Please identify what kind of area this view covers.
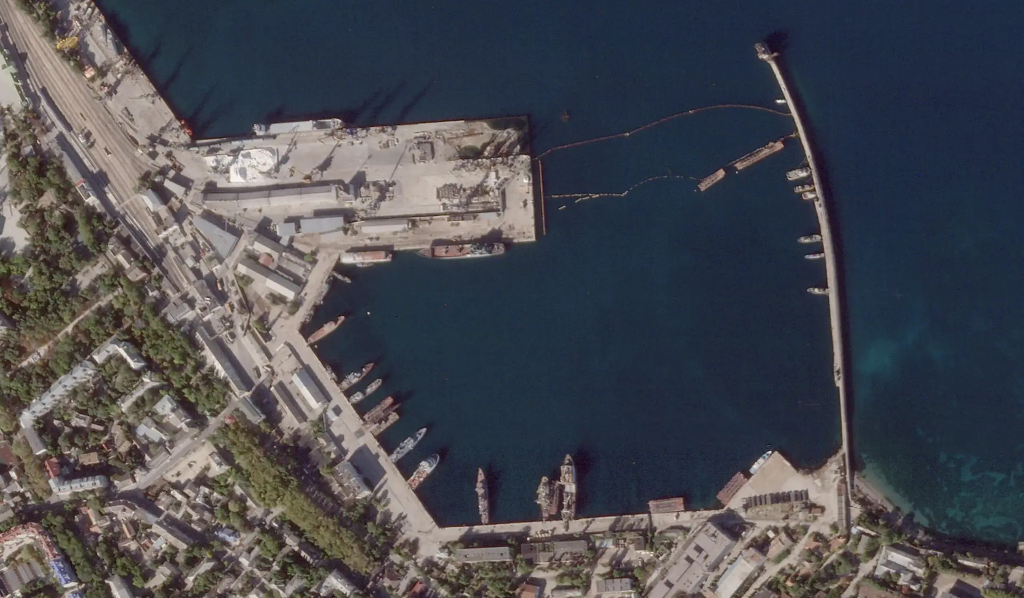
port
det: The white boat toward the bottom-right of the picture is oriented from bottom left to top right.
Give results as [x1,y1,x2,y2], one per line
[748,451,772,475]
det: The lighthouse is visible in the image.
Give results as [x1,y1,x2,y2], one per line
[755,41,774,64]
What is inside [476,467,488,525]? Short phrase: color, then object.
gray ship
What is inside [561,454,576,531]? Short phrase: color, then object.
gray ship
